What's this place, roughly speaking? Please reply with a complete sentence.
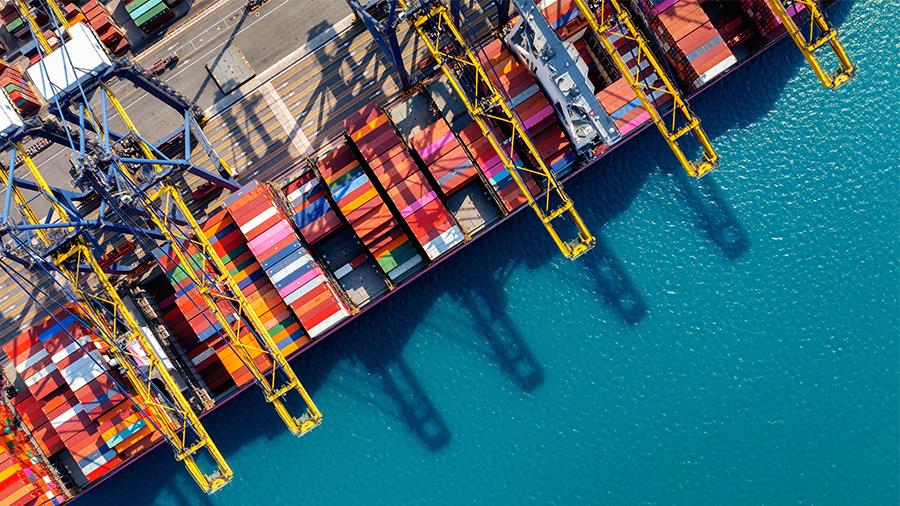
The area seen from above is a port.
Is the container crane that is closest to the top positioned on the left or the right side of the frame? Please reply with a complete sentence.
The container crane that is closest to the top sits on the right side.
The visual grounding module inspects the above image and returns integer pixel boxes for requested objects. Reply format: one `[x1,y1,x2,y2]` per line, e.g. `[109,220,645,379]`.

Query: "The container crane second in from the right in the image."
[576,0,720,175]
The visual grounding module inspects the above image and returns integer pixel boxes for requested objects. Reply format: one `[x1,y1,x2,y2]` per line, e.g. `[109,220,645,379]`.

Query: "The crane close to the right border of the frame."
[770,0,856,85]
